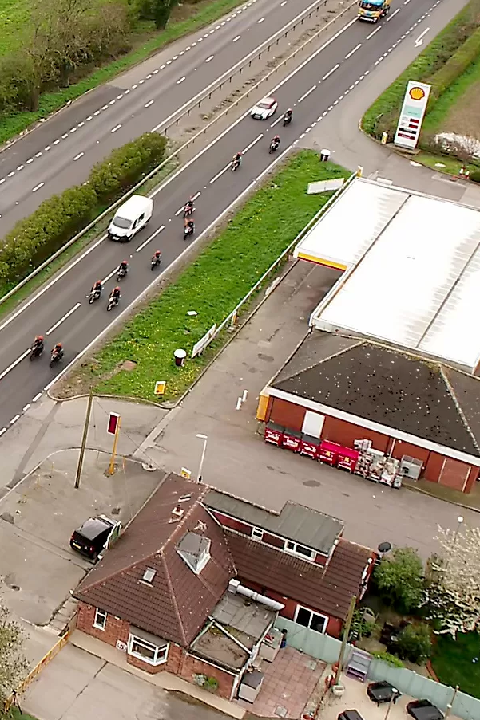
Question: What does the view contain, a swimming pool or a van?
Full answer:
This aerial view contains a van.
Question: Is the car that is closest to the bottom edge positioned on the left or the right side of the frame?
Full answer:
The car that is closest to the bottom edge sits on the left side.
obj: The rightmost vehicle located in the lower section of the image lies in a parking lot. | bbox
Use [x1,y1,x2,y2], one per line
[76,514,119,560]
